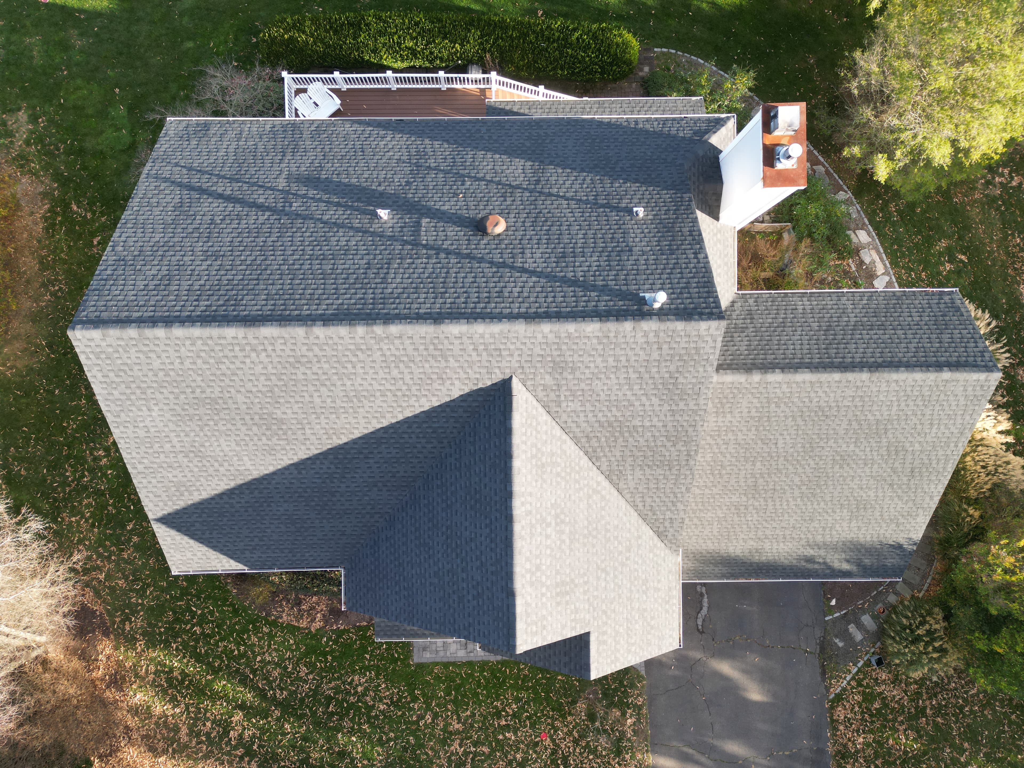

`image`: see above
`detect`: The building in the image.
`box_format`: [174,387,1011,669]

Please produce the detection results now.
[68,97,1002,680]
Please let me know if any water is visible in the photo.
No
